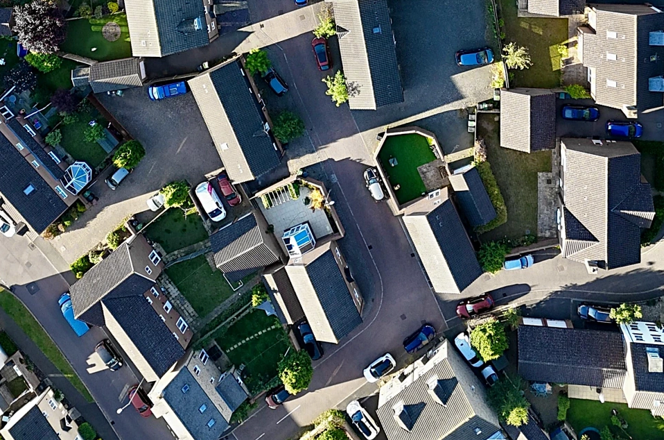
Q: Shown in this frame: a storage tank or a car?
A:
car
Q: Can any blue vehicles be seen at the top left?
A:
Yes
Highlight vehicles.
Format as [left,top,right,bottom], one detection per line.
[457,293,494,317]
[362,166,386,203]
[296,324,323,362]
[0,206,13,237]
[147,79,190,101]
[559,103,603,123]
[347,397,379,439]
[126,382,153,417]
[573,300,616,324]
[451,327,482,371]
[138,188,169,213]
[263,382,291,409]
[362,351,398,381]
[503,250,537,272]
[104,165,132,192]
[605,119,642,139]
[61,294,89,332]
[453,47,495,66]
[402,320,437,352]
[97,335,121,371]
[216,171,241,207]
[262,61,291,102]
[195,179,227,222]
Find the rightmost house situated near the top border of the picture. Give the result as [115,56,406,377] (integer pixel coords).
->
[576,4,664,114]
